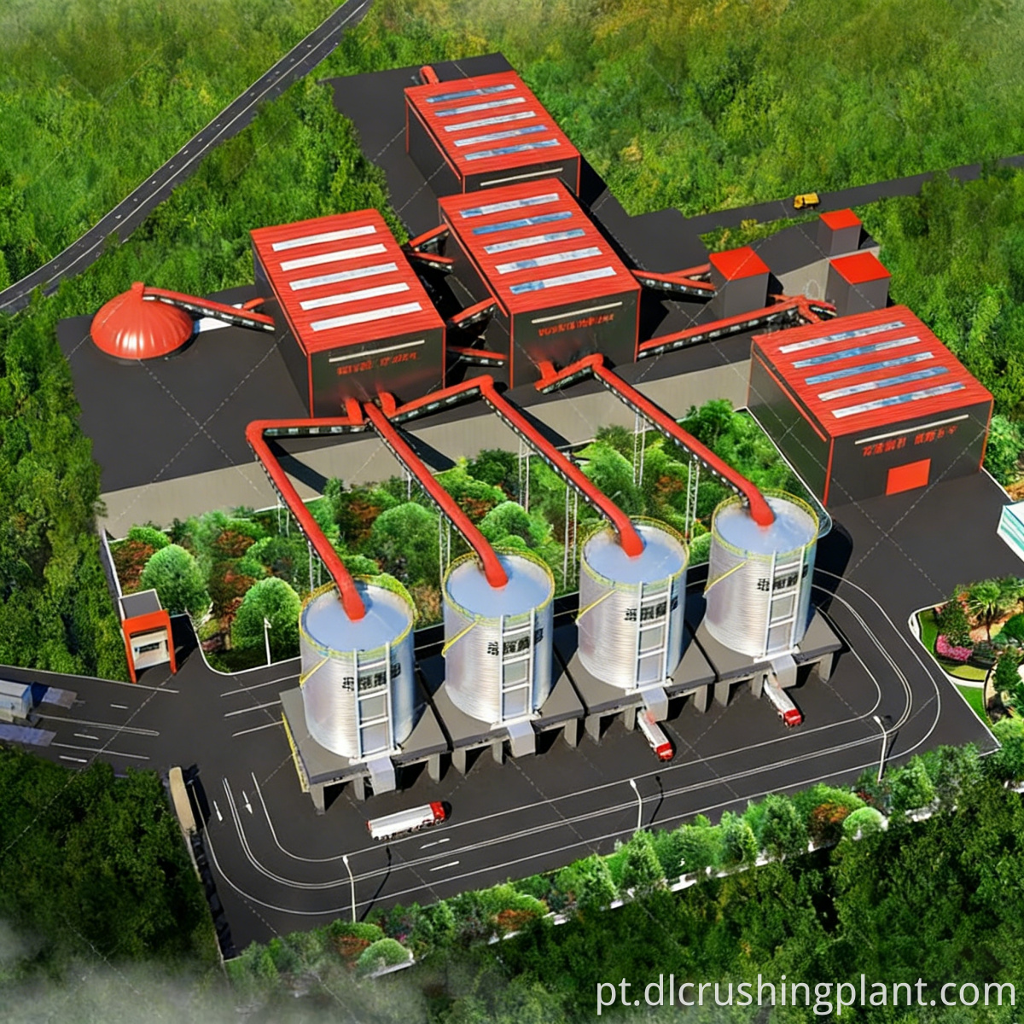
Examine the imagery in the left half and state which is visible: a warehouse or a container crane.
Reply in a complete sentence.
Looking in the left half, you will find a warehouse.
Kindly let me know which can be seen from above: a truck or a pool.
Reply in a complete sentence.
Of the two, only a truck appears.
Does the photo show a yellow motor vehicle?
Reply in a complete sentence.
Yes, there's a yellow motor vehicle here.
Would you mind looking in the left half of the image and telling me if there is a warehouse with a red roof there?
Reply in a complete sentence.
Yes, a warehouse with a red roof can be seen in the left half of the image.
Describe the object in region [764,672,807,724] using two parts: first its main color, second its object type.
white truck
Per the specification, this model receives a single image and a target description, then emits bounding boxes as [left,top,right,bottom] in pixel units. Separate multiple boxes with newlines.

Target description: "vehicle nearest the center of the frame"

[636,705,677,758]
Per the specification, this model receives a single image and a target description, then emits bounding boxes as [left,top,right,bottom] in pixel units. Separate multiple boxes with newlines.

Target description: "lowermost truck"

[367,792,449,839]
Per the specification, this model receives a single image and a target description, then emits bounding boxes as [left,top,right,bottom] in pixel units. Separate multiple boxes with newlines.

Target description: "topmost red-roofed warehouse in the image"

[403,71,581,204]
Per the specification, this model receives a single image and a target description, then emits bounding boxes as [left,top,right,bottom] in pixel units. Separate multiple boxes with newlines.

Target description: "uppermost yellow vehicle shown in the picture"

[793,188,820,205]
